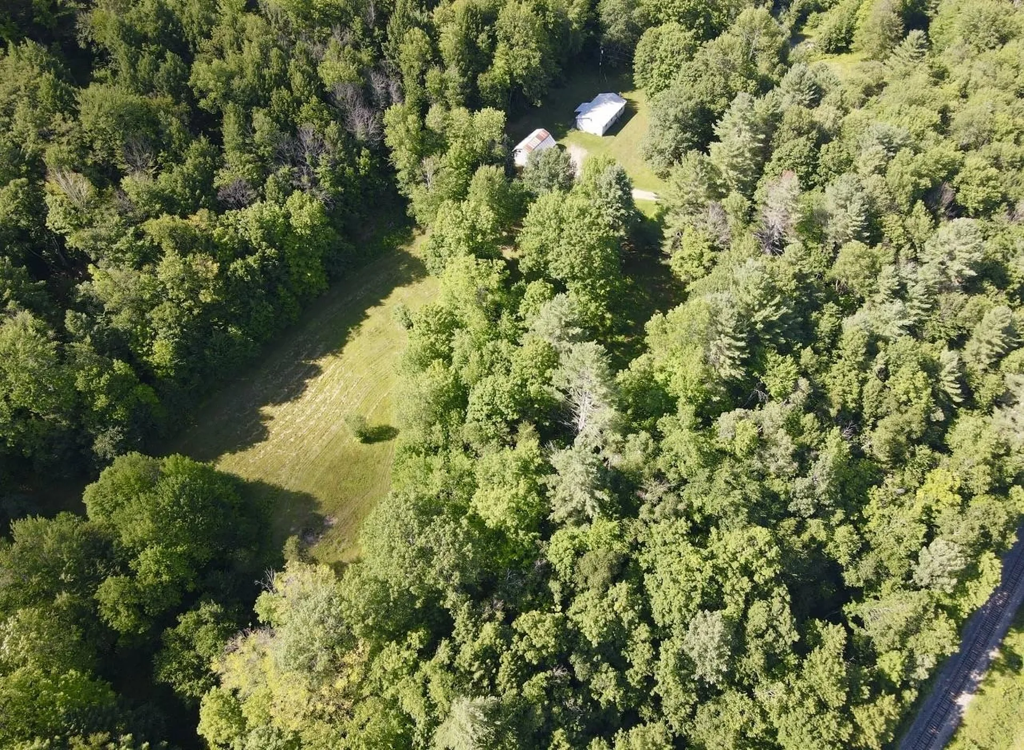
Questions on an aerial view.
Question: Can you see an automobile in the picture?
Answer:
No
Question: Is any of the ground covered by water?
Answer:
No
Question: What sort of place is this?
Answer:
forest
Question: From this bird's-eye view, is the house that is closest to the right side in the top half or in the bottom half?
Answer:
top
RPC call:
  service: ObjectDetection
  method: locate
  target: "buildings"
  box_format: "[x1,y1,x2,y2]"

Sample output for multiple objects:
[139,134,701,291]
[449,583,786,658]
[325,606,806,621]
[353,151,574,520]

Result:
[575,90,626,136]
[513,127,556,167]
